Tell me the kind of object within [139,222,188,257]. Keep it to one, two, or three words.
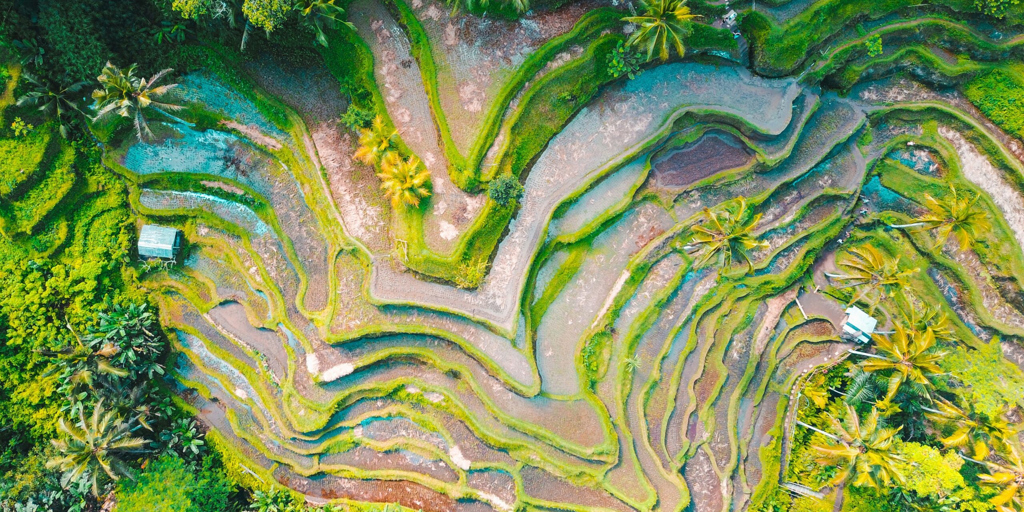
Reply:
shed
